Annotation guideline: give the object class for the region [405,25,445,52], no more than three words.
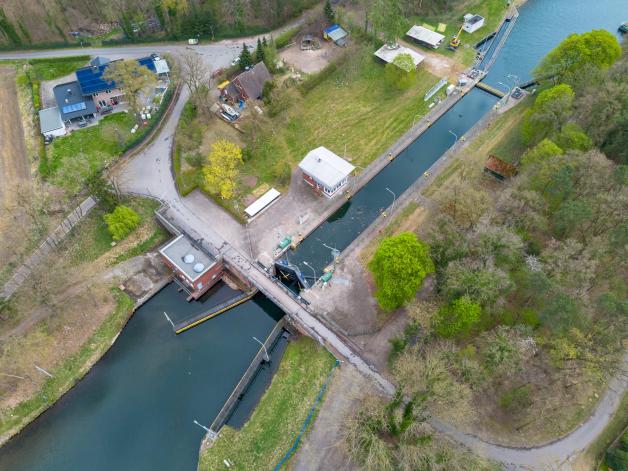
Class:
shed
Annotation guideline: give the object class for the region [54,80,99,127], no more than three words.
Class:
building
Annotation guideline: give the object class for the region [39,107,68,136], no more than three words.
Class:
building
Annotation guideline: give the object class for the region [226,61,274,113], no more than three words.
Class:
house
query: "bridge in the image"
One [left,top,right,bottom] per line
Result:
[221,248,314,335]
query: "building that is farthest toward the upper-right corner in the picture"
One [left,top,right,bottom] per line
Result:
[448,15,484,37]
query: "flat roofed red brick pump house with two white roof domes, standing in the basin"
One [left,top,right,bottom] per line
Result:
[159,234,223,302]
